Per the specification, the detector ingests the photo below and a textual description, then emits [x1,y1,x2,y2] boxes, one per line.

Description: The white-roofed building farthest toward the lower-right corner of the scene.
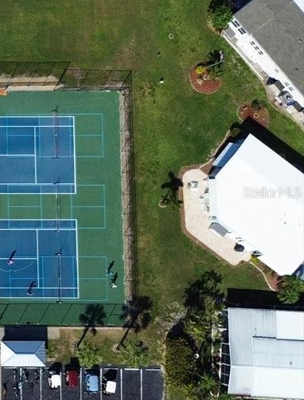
[211,308,304,399]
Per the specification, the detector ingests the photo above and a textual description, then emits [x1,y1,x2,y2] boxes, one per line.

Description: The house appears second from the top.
[205,134,304,277]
